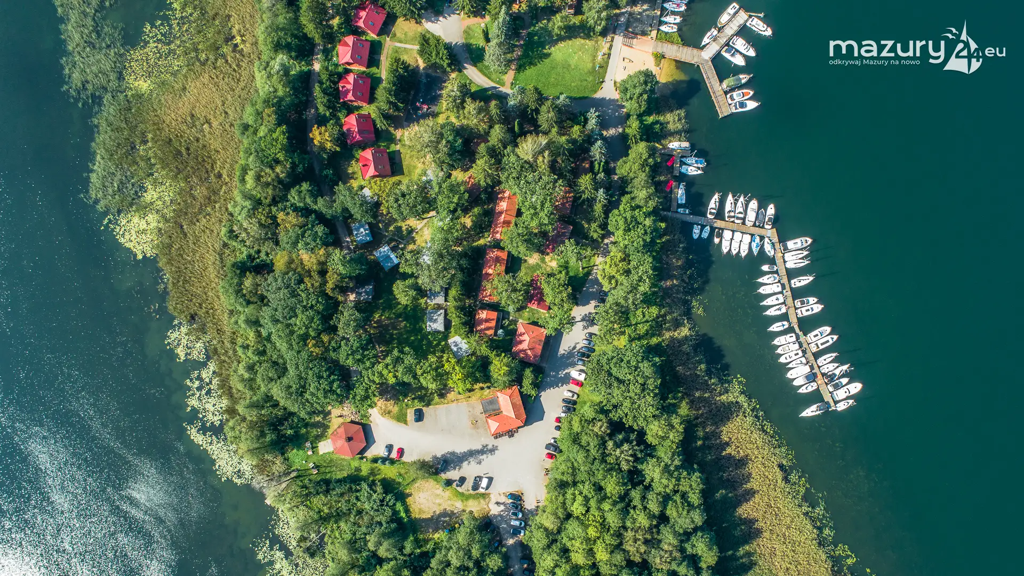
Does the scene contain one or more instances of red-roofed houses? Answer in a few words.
Yes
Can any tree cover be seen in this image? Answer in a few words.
Yes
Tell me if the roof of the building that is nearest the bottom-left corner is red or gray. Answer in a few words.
red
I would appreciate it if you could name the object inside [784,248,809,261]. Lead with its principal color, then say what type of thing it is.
white boat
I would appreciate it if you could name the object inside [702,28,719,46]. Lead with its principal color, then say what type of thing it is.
white boat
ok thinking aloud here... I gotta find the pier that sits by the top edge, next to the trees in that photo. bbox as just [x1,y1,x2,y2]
[652,7,764,118]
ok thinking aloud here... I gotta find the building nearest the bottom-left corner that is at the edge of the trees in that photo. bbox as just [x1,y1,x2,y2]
[330,422,367,457]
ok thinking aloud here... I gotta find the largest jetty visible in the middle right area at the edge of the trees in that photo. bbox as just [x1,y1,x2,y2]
[657,181,836,412]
